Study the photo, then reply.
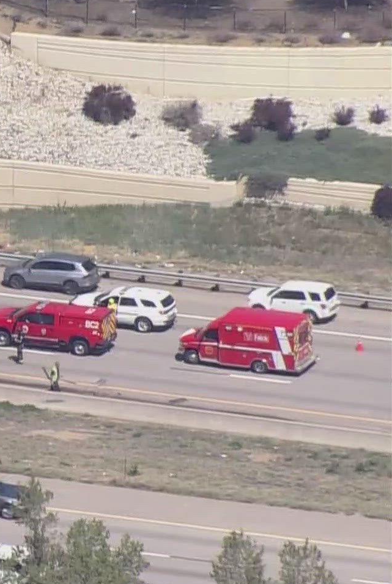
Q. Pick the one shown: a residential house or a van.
van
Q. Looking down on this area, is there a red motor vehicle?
Yes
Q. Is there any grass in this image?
Yes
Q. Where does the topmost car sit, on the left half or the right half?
left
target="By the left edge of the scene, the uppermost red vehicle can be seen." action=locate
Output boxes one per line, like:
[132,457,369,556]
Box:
[0,299,116,356]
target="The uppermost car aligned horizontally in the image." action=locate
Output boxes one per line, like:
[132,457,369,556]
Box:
[0,249,102,294]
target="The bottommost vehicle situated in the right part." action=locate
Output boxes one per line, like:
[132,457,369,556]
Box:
[171,304,314,374]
